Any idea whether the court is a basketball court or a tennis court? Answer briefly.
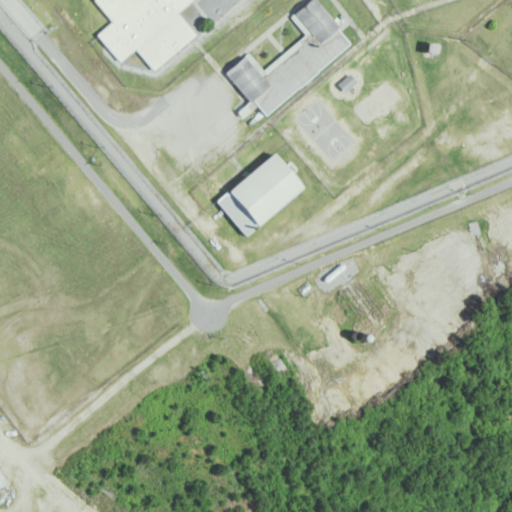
basketball court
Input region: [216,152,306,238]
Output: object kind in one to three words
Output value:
building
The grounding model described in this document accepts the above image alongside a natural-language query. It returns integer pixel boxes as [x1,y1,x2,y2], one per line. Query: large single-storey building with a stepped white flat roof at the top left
[94,0,197,69]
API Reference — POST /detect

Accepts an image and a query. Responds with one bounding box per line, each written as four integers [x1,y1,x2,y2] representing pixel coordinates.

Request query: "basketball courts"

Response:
[296,100,354,160]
